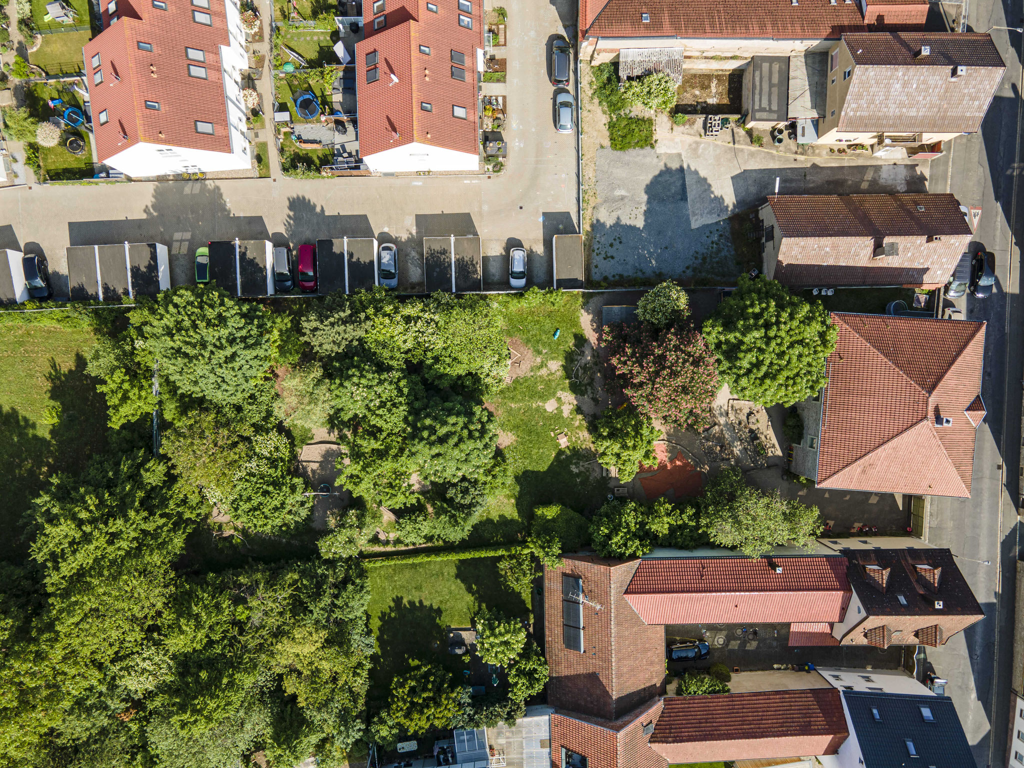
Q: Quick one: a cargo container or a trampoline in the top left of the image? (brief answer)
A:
trampoline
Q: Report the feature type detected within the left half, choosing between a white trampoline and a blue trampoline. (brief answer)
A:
blue trampoline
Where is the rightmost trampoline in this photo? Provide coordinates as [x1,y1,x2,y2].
[287,84,319,118]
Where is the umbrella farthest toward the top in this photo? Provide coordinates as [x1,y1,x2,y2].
[333,41,355,65]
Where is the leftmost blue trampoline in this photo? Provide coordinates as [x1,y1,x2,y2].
[54,101,85,128]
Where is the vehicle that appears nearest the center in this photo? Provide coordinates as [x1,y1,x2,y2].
[507,246,529,289]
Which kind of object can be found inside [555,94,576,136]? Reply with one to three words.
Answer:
car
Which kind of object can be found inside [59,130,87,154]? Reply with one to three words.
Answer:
trampoline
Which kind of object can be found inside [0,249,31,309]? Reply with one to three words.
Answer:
building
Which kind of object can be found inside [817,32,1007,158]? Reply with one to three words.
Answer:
house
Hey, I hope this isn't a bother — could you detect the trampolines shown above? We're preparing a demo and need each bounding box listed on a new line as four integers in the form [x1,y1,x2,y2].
[287,84,319,118]
[54,101,85,128]
[59,130,87,154]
